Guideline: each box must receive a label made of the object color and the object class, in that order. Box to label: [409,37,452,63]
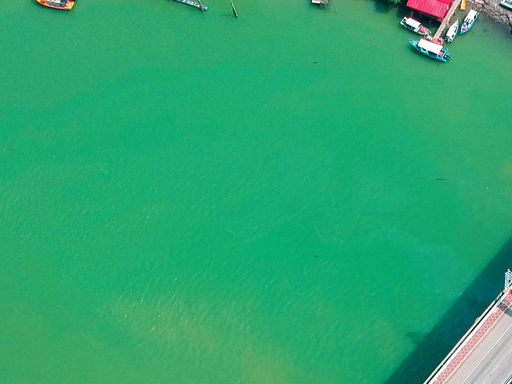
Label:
white boat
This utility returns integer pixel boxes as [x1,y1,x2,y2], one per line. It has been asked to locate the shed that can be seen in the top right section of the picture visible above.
[406,0,455,26]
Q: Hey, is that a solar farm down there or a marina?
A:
marina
